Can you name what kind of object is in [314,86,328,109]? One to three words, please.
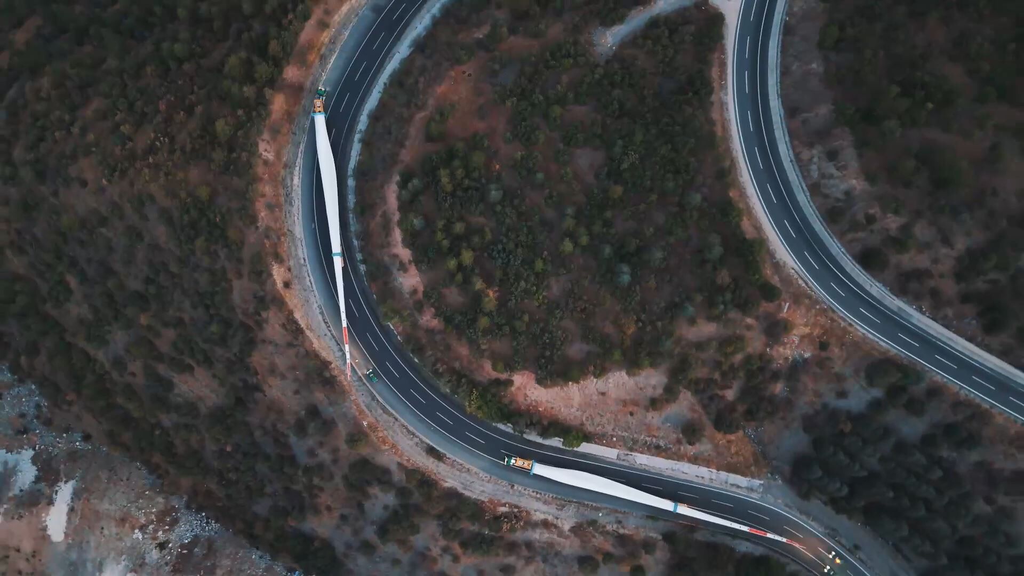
vehicle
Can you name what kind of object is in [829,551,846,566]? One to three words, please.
vehicle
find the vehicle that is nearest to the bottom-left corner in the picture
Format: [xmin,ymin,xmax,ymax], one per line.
[366,369,379,385]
